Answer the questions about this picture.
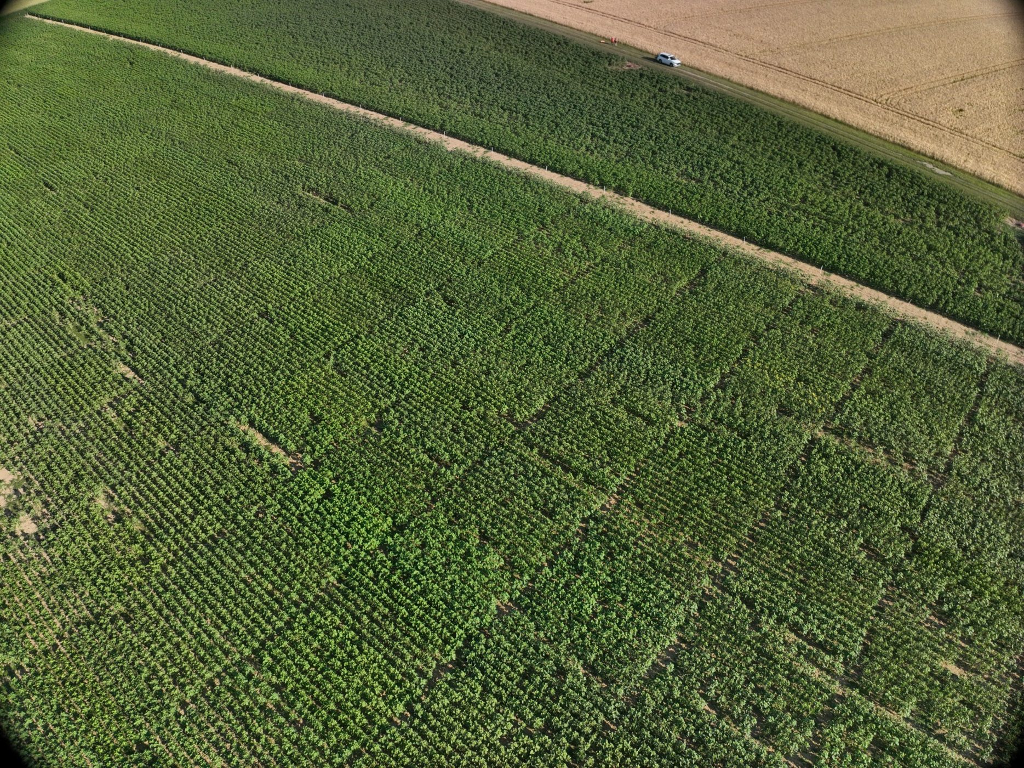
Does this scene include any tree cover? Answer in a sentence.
No, the picture contains no tree cover.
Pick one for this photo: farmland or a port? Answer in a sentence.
The area seen from above is farmland.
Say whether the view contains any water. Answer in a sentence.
No, there is no water in the image.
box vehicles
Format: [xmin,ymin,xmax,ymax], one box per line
[658,52,682,67]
